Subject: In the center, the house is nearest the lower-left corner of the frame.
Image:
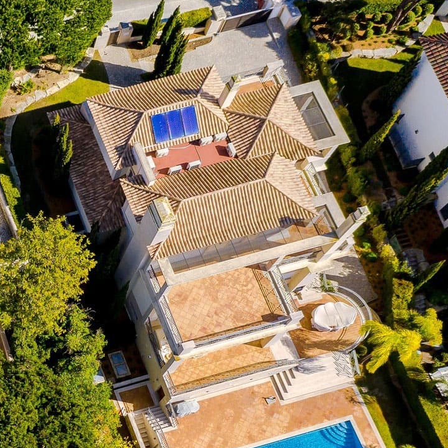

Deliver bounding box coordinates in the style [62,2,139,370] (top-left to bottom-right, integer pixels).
[49,59,368,401]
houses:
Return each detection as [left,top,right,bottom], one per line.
[49,59,368,401]
[393,30,448,236]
